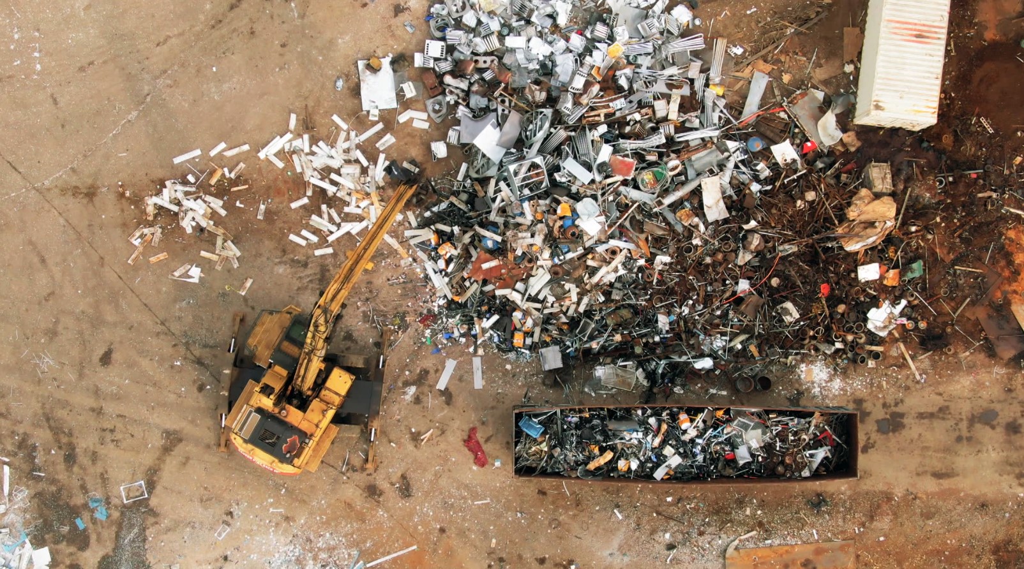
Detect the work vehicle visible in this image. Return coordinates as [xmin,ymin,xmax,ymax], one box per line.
[218,153,426,476]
